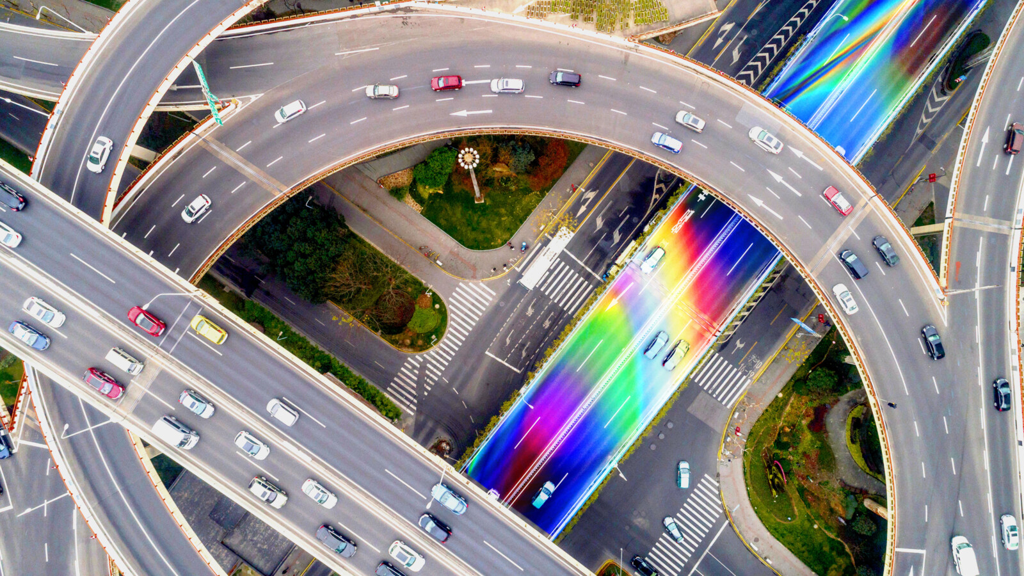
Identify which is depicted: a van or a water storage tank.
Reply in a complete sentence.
The image shows a van.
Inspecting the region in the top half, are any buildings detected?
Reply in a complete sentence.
No, the scene shows no building in the top half.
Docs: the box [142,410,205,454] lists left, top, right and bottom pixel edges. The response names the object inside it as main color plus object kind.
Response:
white vehicle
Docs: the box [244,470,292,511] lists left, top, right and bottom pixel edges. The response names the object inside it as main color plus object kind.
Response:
white car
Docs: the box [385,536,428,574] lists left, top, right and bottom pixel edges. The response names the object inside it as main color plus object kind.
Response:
white car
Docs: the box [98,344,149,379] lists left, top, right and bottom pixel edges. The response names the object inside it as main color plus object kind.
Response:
white van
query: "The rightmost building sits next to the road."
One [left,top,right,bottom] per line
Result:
[226,529,300,576]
